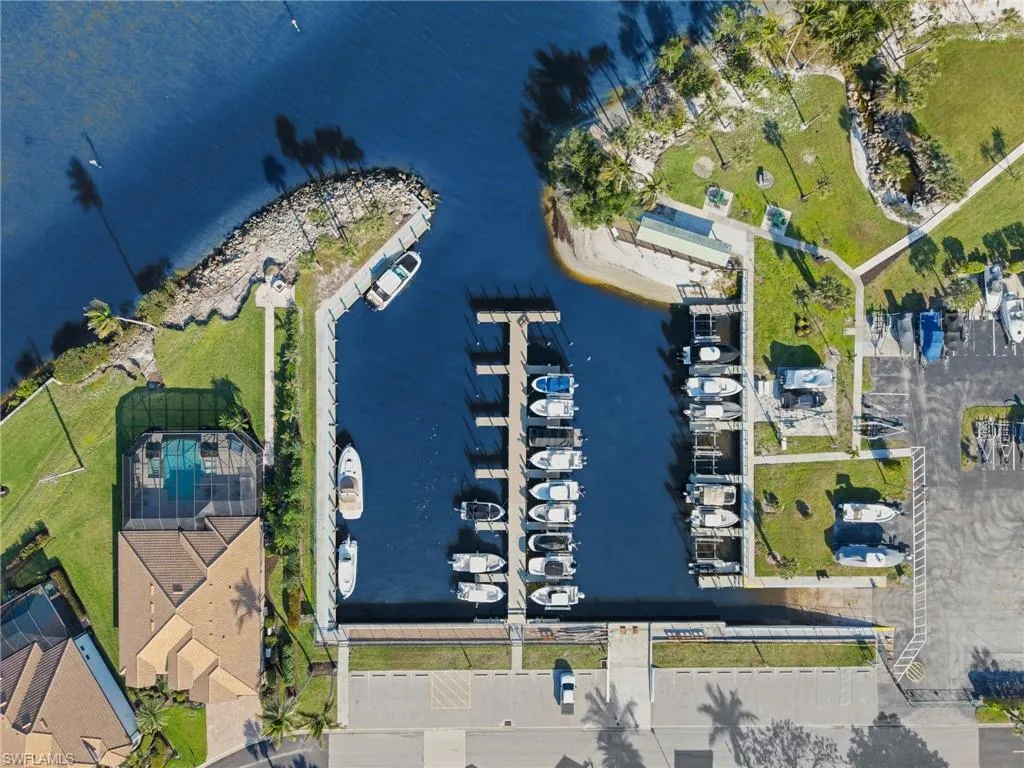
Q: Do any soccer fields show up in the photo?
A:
No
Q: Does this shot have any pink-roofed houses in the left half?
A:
No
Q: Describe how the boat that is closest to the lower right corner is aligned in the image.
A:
horizontally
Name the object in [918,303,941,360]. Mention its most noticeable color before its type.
blue boat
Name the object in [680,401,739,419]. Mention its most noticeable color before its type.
white boat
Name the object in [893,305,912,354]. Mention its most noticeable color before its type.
gray boat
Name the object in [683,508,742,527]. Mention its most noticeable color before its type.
white boat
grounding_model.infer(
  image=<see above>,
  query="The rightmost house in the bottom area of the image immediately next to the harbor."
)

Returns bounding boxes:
[118,519,267,707]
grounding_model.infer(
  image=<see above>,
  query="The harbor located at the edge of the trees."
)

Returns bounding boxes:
[315,206,896,646]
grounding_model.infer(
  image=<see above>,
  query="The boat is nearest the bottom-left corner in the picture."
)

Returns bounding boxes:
[339,536,356,600]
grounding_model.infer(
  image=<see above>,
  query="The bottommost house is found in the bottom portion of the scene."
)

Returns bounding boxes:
[0,635,134,768]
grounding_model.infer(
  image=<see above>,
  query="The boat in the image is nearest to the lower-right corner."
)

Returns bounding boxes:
[830,546,901,567]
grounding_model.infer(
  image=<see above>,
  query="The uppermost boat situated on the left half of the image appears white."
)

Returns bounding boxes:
[362,254,418,316]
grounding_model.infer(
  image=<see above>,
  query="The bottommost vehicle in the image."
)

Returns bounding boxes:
[559,672,576,714]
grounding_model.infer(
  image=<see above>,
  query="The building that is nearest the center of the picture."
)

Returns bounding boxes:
[612,216,736,270]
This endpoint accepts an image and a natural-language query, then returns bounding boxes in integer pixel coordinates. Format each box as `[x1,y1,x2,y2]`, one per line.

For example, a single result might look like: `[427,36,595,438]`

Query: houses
[0,635,134,768]
[118,519,267,707]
